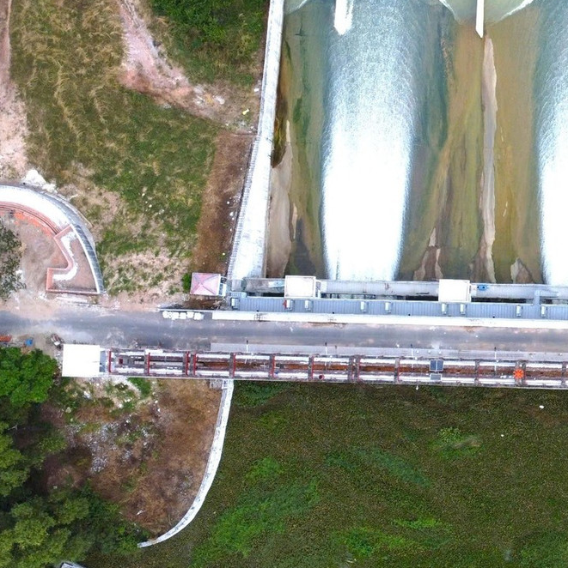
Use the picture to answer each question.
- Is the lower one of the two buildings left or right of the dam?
left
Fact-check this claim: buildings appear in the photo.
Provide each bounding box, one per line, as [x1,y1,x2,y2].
[62,344,114,377]
[190,273,227,296]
